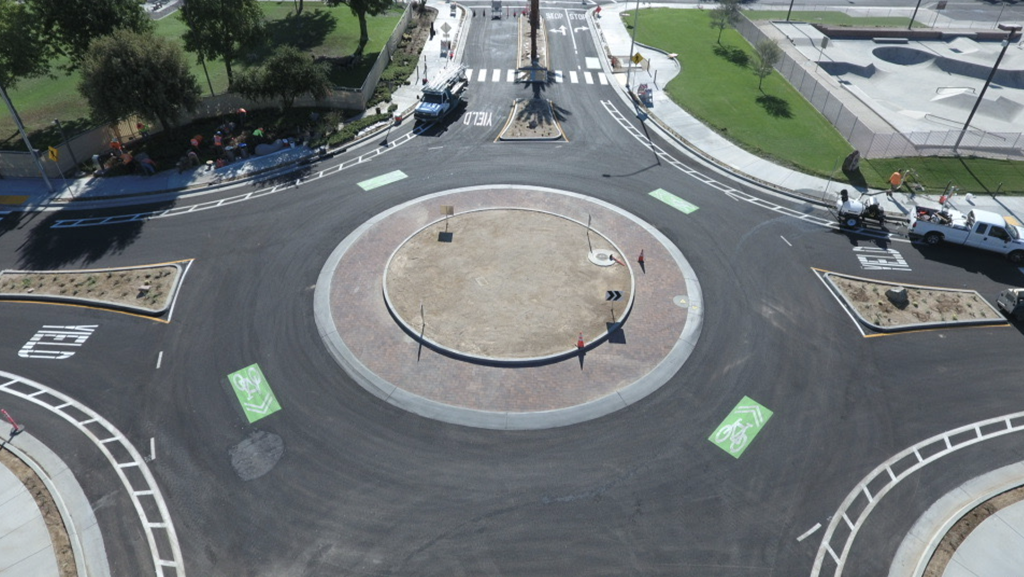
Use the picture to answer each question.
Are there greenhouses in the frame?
No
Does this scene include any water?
No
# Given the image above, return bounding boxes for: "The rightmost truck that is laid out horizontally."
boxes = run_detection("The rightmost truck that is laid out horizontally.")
[911,205,1024,264]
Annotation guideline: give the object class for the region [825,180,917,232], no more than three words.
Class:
trailer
